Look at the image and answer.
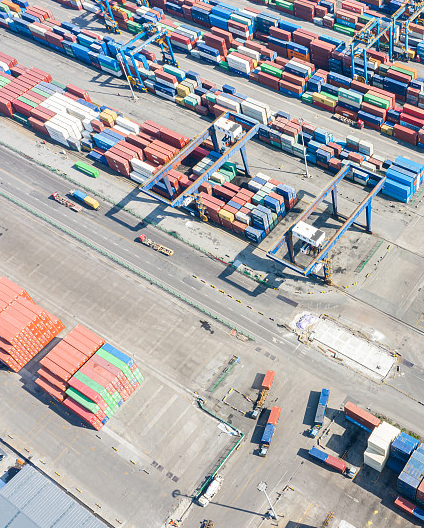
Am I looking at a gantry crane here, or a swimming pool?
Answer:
gantry crane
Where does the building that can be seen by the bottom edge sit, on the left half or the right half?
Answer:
left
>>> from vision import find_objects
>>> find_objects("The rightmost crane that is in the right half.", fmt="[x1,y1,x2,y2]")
[389,0,424,59]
